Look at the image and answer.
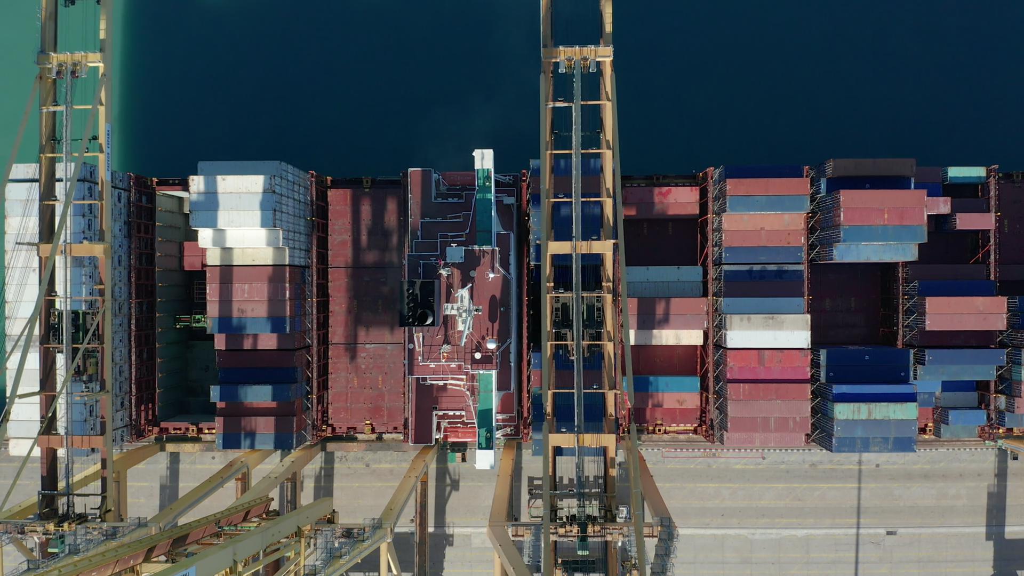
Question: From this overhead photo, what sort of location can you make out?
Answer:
port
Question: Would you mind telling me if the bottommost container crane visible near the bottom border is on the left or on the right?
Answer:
left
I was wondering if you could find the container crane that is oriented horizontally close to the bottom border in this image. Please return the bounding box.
[42,437,464,576]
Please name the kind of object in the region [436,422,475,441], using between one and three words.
boat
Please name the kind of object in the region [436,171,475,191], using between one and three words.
boat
